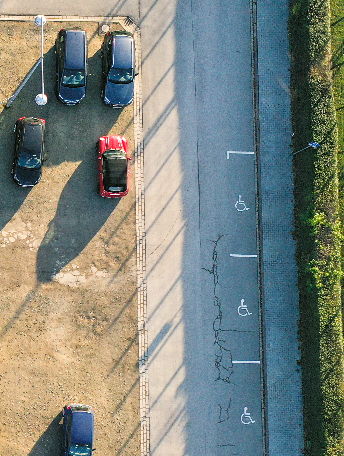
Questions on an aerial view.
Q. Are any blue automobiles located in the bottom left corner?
Yes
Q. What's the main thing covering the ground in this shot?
paved ground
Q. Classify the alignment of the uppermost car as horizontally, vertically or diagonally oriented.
vertically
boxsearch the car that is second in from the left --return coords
[62,401,96,456]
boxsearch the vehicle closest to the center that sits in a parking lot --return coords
[96,134,134,200]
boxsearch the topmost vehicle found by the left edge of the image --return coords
[10,115,48,188]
